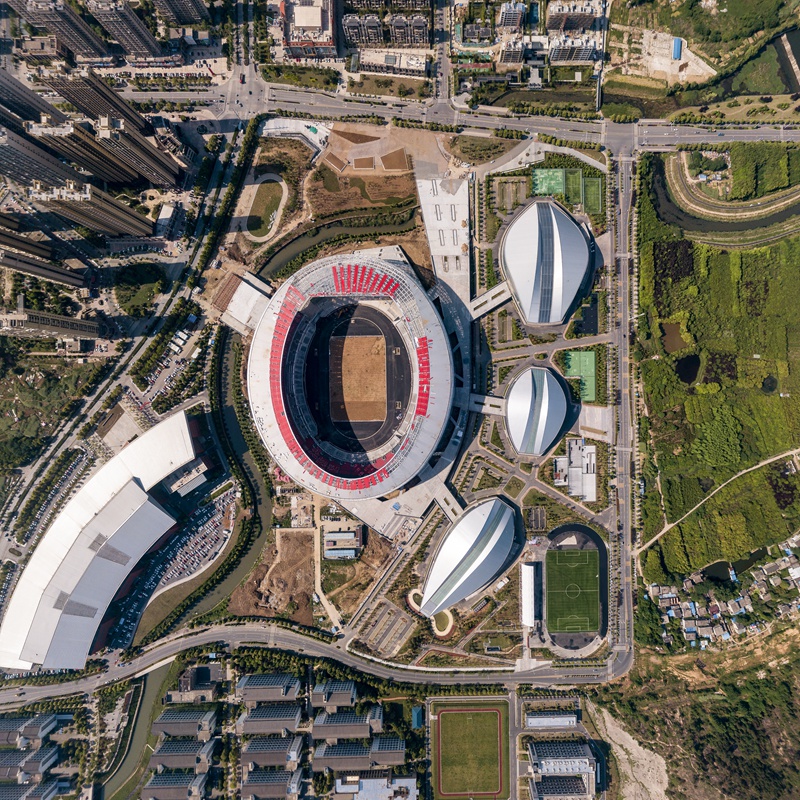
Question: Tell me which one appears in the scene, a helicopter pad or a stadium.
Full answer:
The one in the frame is a stadium.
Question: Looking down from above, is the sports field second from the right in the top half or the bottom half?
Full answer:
Seen from above, the sports field second from the right lies in the bottom half of the view.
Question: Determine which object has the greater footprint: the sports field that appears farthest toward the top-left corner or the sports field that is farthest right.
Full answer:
Of the two, the sports field that is farthest right is bigger, while the sports field that appears farthest toward the top-left corner is smaller.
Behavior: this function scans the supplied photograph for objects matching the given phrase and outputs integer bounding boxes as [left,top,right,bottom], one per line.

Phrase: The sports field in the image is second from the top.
[536,523,609,661]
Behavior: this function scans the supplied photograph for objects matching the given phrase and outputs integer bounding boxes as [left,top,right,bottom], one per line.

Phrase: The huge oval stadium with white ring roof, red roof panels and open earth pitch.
[246,247,455,501]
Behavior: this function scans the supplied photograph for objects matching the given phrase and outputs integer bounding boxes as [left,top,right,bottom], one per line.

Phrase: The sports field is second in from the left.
[430,701,511,800]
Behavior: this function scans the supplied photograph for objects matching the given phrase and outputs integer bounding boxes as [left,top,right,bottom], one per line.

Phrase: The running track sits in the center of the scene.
[305,303,408,453]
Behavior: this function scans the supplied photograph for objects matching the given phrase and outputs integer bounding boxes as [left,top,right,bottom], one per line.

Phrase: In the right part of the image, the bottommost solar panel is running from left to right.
[537,777,584,796]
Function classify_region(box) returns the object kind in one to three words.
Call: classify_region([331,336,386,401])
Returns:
sports field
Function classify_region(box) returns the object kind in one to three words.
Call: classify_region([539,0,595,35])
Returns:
building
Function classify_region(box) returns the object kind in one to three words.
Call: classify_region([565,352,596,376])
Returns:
sports court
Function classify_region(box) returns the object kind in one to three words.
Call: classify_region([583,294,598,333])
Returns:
sports court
